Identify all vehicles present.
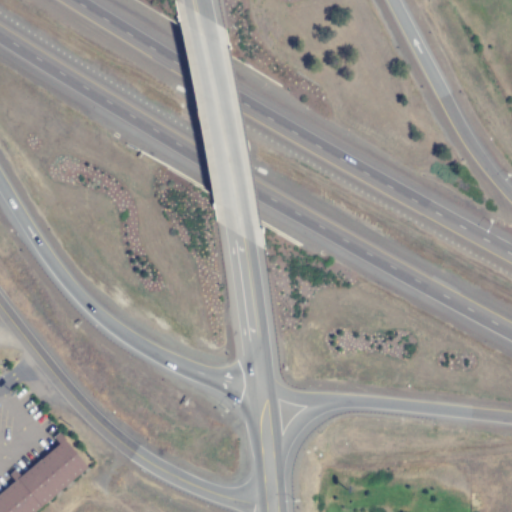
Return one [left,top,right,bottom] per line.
[8,465,16,474]
[0,476,8,487]
[32,412,44,421]
[6,429,11,440]
[256,166,269,176]
[38,438,50,451]
[26,451,35,462]
[21,454,31,466]
[248,363,254,375]
[86,302,96,313]
[34,236,42,247]
[228,394,240,403]
[8,198,18,210]
[24,402,34,410]
[46,436,55,446]
[37,414,48,424]
[166,361,178,370]
[28,406,39,416]
[30,448,40,458]
[174,85,186,94]
[46,424,58,435]
[16,458,27,470]
[2,470,11,481]
[16,389,28,400]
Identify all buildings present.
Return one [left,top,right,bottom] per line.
[0,435,87,512]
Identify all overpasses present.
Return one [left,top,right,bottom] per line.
[180,1,266,248]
